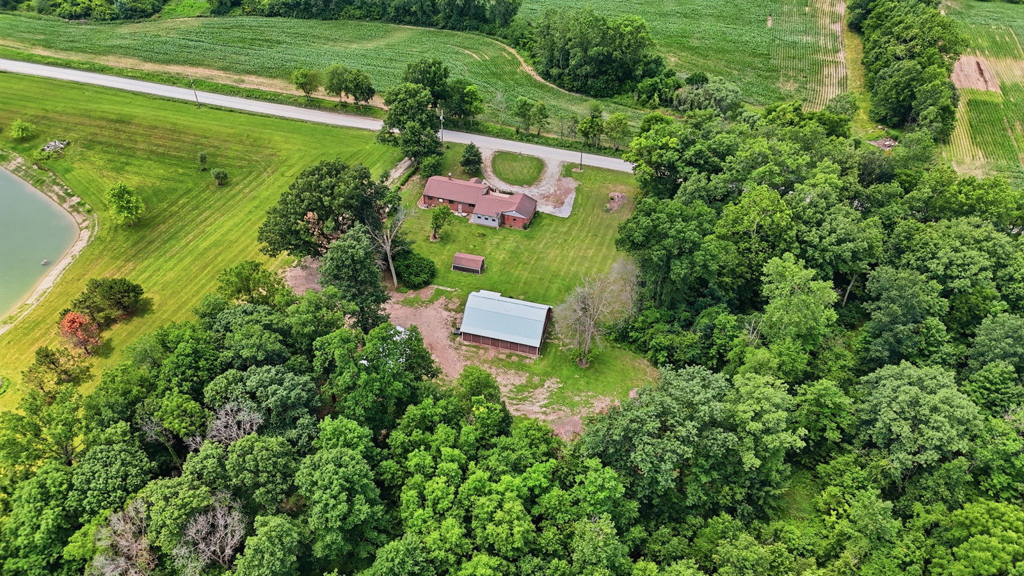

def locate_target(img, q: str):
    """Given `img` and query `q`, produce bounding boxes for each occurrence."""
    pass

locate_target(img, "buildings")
[460,289,552,356]
[421,175,540,228]
[451,252,486,275]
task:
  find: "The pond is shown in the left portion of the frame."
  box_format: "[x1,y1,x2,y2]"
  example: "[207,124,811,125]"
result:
[0,165,80,320]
